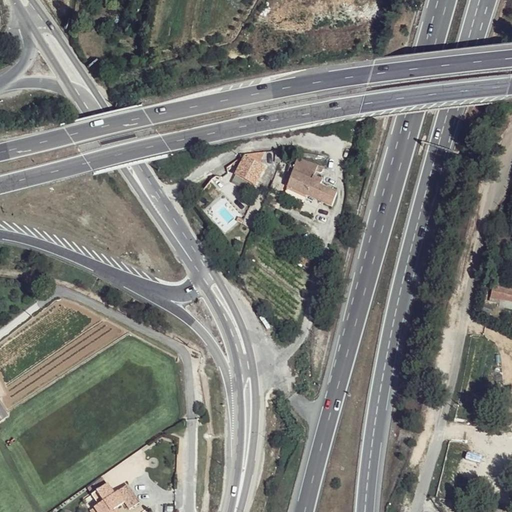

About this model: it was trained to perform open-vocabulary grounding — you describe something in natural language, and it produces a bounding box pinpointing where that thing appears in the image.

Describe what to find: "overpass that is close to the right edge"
[358,42,512,119]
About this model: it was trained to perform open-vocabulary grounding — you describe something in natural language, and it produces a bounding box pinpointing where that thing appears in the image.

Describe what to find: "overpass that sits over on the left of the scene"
[64,103,172,176]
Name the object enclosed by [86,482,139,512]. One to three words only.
house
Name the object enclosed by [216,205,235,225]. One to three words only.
swimming pool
